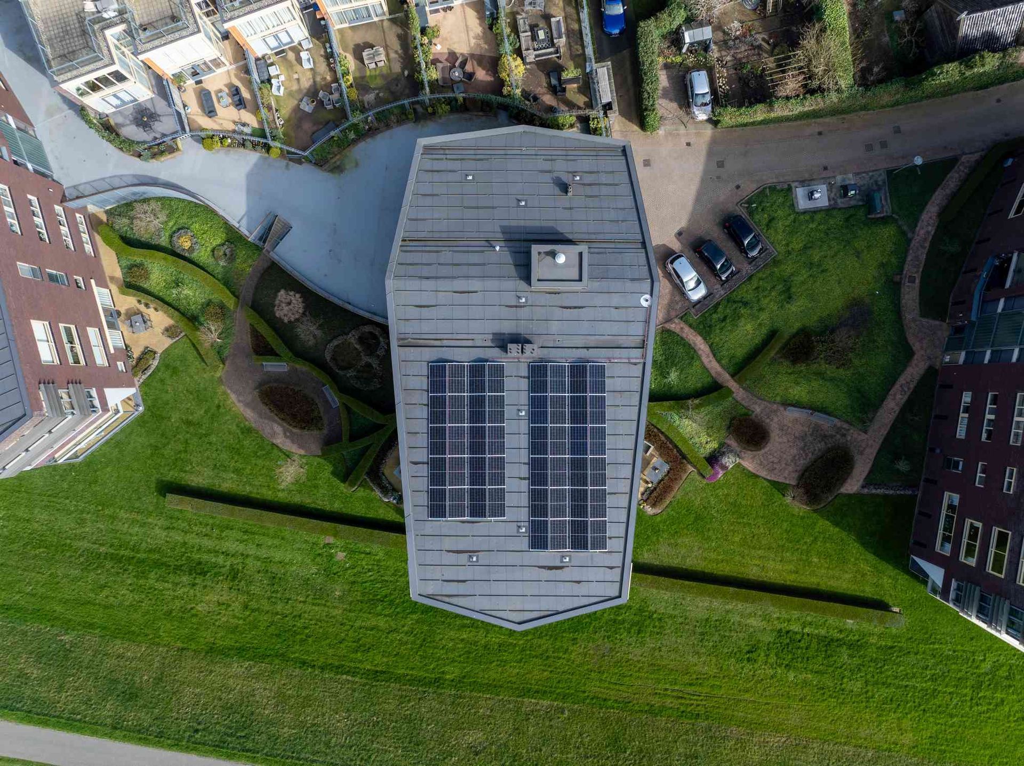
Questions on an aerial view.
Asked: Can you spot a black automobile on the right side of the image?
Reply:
Yes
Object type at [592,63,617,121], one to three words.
shed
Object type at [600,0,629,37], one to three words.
car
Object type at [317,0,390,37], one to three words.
house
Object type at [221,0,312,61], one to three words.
house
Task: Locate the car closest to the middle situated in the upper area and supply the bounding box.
[663,248,707,306]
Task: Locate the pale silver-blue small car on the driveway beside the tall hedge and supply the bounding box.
[683,69,714,123]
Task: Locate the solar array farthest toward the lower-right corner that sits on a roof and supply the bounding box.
[530,363,608,551]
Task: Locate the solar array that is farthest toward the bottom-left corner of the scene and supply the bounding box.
[428,363,506,520]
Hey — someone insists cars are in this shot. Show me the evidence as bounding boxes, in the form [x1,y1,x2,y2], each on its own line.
[692,233,735,287]
[600,0,629,37]
[720,209,763,264]
[683,69,714,123]
[663,248,707,306]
